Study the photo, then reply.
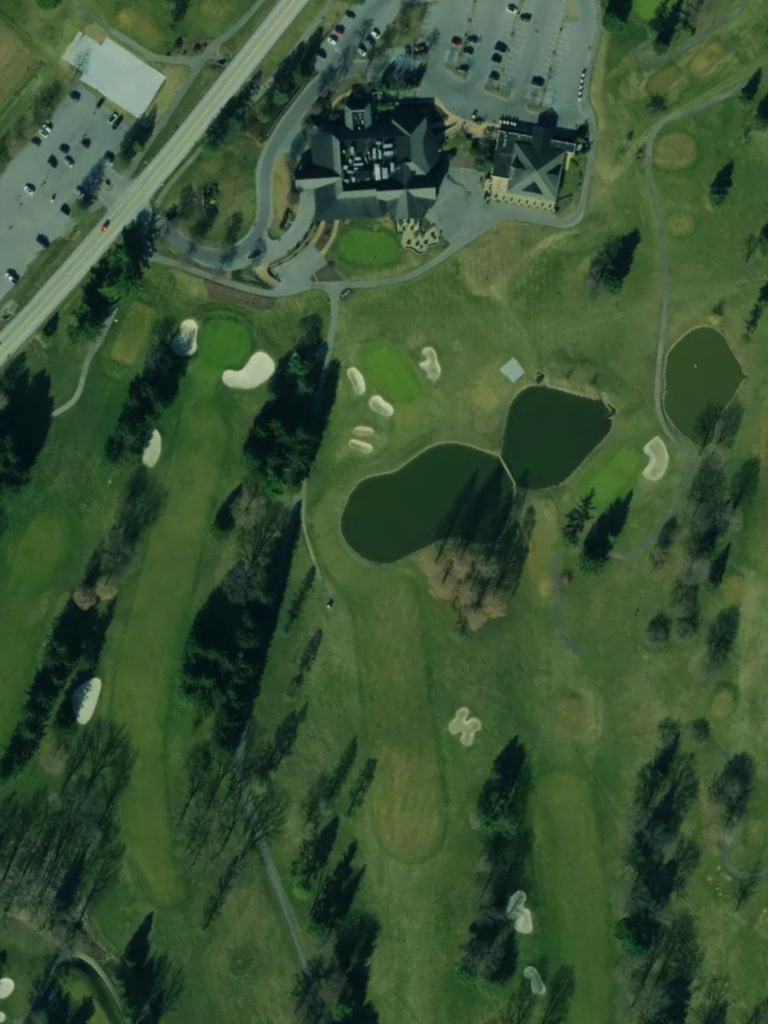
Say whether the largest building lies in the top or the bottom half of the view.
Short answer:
top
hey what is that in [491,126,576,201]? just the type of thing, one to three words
building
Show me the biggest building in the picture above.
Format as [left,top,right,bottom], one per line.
[295,102,439,221]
